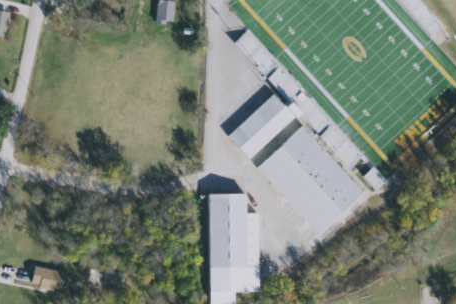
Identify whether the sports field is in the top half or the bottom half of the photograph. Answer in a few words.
top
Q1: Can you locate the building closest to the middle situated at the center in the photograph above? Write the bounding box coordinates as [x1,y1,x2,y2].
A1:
[230,94,296,159]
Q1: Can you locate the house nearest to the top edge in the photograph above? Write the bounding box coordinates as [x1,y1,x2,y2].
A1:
[156,0,176,24]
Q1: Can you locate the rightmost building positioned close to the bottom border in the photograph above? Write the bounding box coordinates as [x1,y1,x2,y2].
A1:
[209,194,260,304]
